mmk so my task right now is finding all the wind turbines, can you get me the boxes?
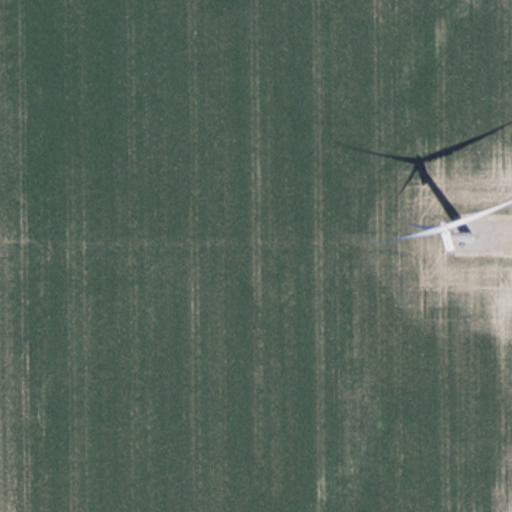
[372,200,512,250]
